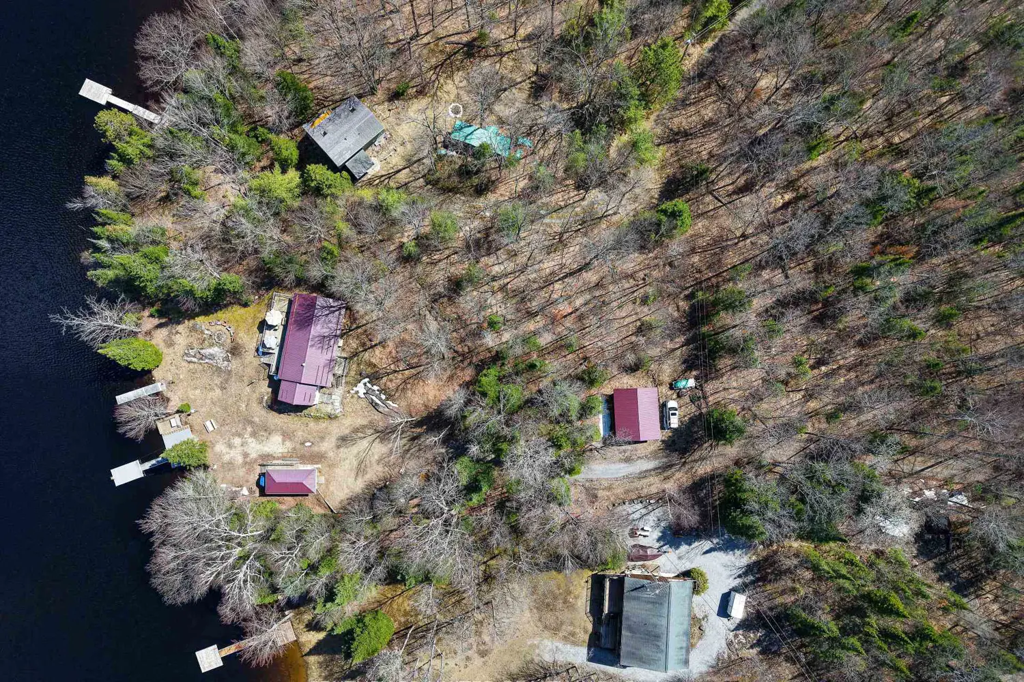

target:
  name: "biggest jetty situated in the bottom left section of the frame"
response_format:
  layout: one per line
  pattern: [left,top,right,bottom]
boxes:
[195,621,297,673]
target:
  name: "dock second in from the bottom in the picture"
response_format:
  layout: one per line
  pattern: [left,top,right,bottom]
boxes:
[110,454,178,487]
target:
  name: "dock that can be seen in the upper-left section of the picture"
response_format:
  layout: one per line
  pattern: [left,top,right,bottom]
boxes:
[78,78,170,126]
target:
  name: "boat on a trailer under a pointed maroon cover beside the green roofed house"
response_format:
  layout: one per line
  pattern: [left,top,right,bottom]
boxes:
[627,546,670,562]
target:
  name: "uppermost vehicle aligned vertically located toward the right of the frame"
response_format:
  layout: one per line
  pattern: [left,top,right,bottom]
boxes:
[665,399,679,428]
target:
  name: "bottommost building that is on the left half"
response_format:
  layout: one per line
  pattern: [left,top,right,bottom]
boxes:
[265,468,318,495]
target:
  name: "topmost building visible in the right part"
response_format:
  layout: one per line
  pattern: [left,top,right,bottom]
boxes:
[614,387,661,441]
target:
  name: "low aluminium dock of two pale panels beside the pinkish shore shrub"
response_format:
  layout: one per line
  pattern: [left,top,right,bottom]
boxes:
[115,382,167,405]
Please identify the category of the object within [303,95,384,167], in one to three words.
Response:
building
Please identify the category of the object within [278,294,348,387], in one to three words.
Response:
building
